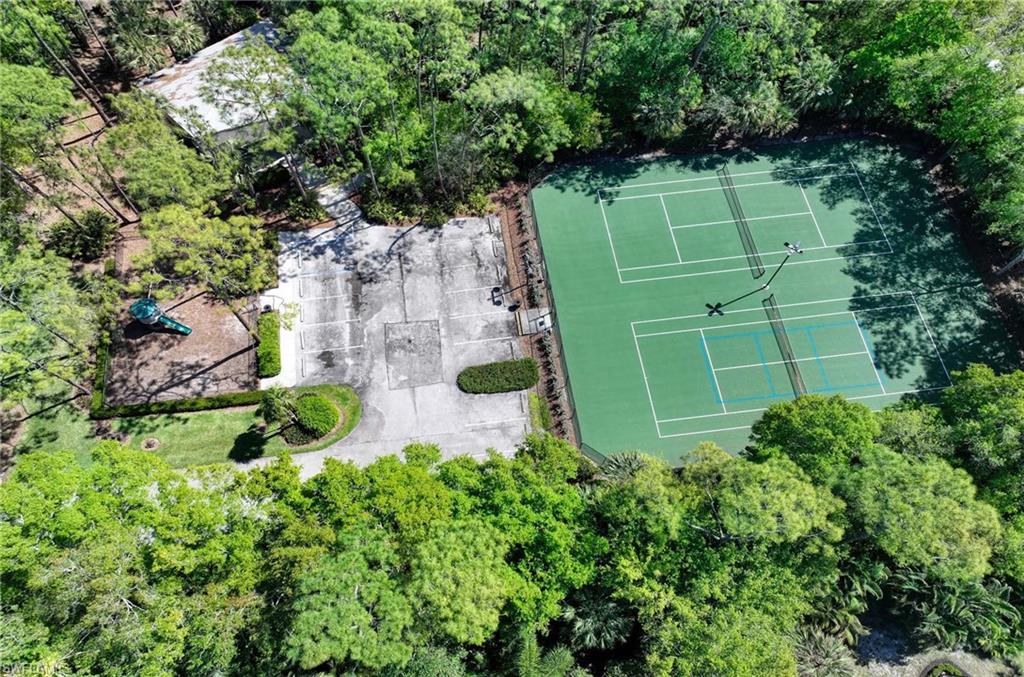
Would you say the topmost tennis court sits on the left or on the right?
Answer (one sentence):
You can find the topmost tennis court on the right side of the picture.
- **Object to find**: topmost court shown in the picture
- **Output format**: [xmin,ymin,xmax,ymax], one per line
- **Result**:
[531,133,980,310]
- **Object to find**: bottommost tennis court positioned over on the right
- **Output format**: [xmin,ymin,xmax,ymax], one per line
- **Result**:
[554,262,1024,467]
